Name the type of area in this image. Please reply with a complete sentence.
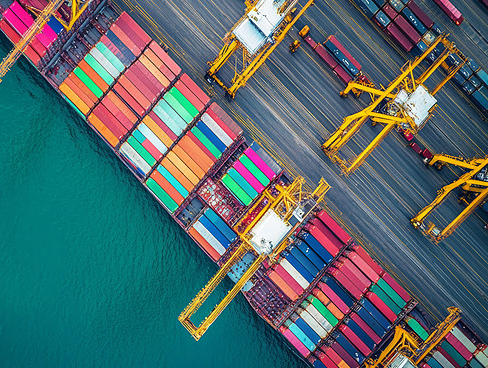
The picture captures a port.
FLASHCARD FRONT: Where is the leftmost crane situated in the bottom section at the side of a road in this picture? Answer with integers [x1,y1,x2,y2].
[176,174,333,342]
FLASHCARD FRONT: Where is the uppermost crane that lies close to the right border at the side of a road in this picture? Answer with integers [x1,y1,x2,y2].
[322,30,474,175]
